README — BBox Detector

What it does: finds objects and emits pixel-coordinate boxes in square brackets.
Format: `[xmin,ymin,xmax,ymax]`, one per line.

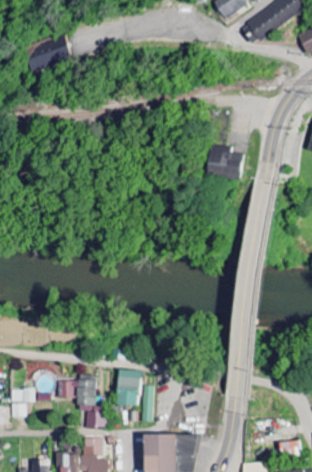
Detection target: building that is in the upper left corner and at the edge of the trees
[28,36,73,70]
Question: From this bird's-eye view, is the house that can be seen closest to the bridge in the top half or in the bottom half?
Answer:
top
